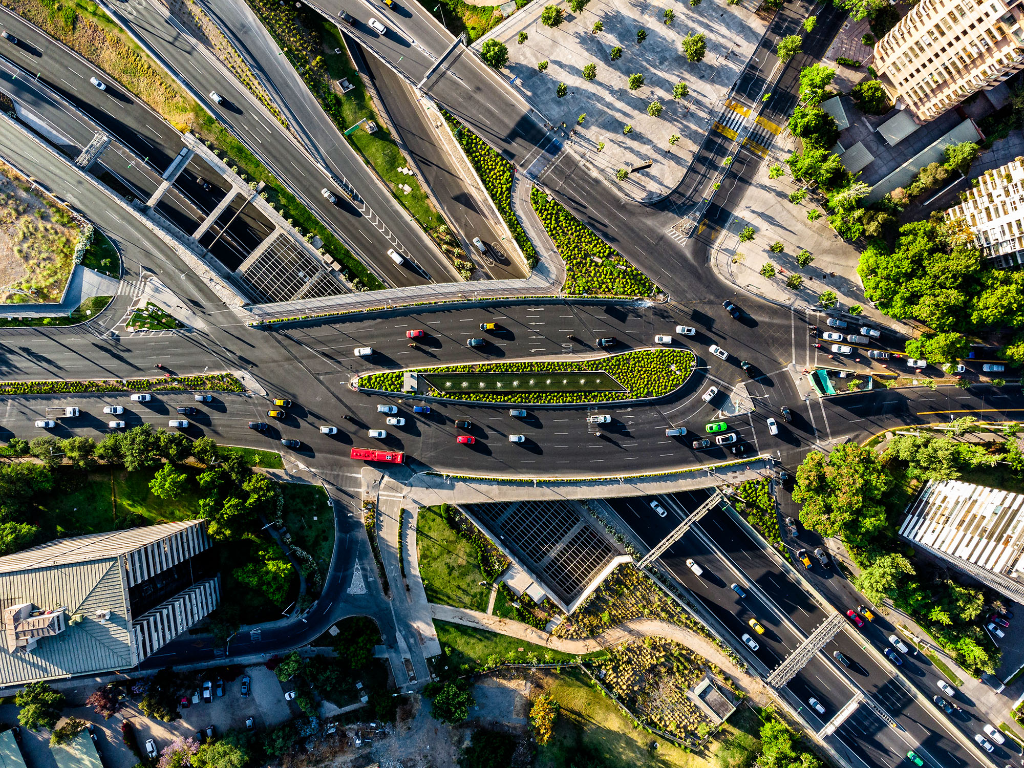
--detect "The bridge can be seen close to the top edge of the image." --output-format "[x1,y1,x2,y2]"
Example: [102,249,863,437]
[299,0,552,158]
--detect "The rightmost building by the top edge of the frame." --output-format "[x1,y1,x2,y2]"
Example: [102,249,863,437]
[876,0,1024,120]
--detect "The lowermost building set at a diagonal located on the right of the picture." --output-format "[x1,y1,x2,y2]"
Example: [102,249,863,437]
[692,674,737,723]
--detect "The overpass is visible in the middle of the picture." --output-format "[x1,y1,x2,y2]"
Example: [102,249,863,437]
[239,169,774,508]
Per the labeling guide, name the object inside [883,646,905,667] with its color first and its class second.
blue truck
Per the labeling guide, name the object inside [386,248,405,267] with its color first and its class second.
white vehicle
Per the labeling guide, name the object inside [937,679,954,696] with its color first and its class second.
white car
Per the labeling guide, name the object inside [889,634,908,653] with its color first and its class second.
white car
